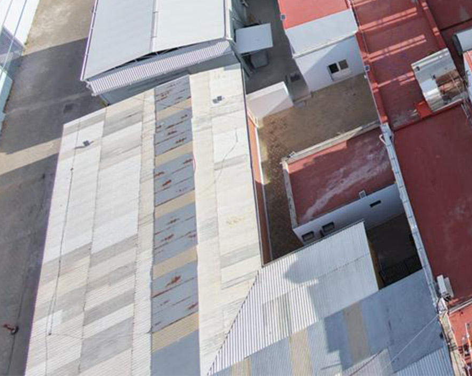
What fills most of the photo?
buildings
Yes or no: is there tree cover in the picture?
No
